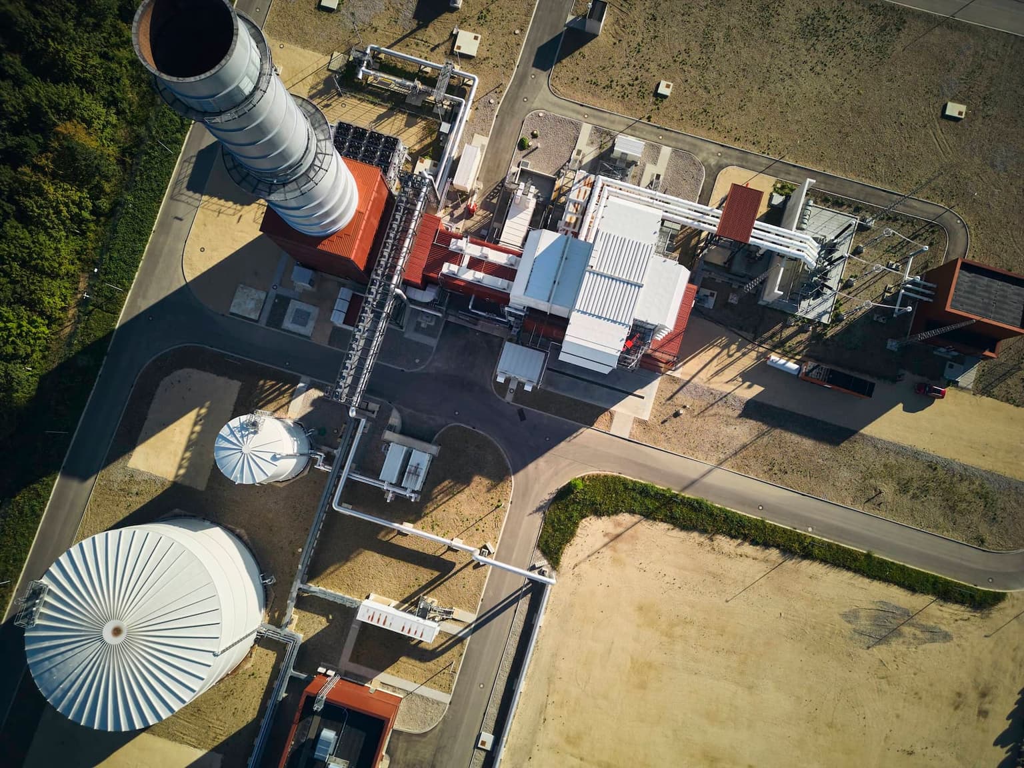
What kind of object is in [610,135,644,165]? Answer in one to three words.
building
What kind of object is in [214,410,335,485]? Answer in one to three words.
storage tank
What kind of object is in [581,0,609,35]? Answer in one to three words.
shed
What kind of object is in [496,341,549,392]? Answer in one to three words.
shed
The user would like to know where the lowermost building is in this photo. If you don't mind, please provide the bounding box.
[283,656,400,768]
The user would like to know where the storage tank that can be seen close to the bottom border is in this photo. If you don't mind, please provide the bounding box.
[11,513,273,734]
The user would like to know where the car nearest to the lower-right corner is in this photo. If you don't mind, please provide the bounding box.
[916,381,950,400]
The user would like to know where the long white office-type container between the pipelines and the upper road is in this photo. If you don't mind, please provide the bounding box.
[453,143,484,198]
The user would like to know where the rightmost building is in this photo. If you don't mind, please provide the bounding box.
[910,260,1024,351]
